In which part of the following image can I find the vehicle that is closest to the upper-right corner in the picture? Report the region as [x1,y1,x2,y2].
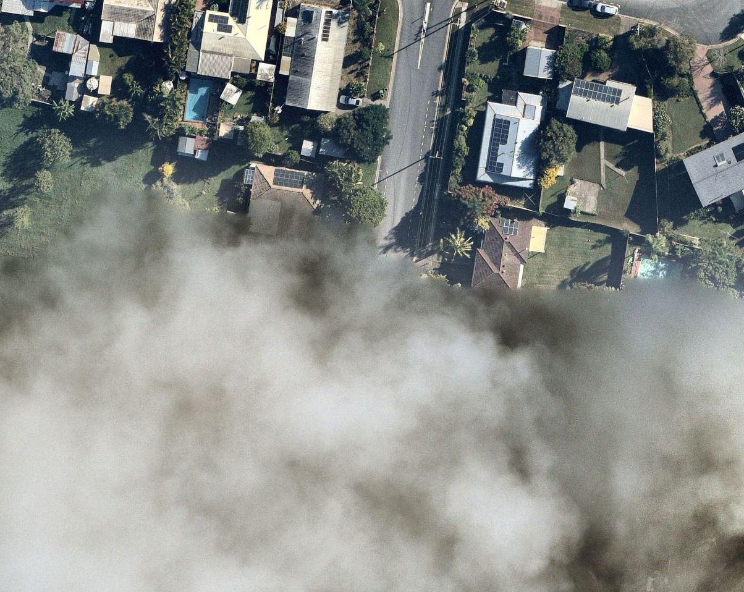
[595,2,618,15]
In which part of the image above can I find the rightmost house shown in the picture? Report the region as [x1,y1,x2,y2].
[683,133,744,213]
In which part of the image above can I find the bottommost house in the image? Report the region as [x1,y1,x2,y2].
[469,218,547,305]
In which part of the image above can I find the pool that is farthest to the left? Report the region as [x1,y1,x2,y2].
[182,76,221,126]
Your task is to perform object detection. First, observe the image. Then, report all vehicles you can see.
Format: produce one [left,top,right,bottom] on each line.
[595,2,618,15]
[568,0,595,9]
[340,96,362,105]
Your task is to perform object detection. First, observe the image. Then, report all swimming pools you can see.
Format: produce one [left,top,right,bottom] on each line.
[630,249,684,287]
[182,76,221,126]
